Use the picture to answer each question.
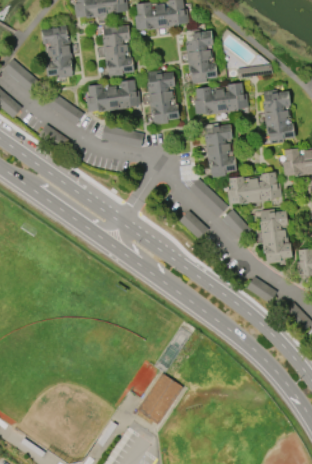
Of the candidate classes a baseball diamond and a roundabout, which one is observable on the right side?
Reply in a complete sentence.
The feature located on the right side is a baseball diamond.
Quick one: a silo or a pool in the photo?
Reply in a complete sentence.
There is a pool in the scene.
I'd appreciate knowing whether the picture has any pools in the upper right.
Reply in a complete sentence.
Yes, there is a pool in the upper right.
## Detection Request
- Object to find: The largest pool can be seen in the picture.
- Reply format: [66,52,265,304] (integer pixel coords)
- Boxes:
[222,29,270,77]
